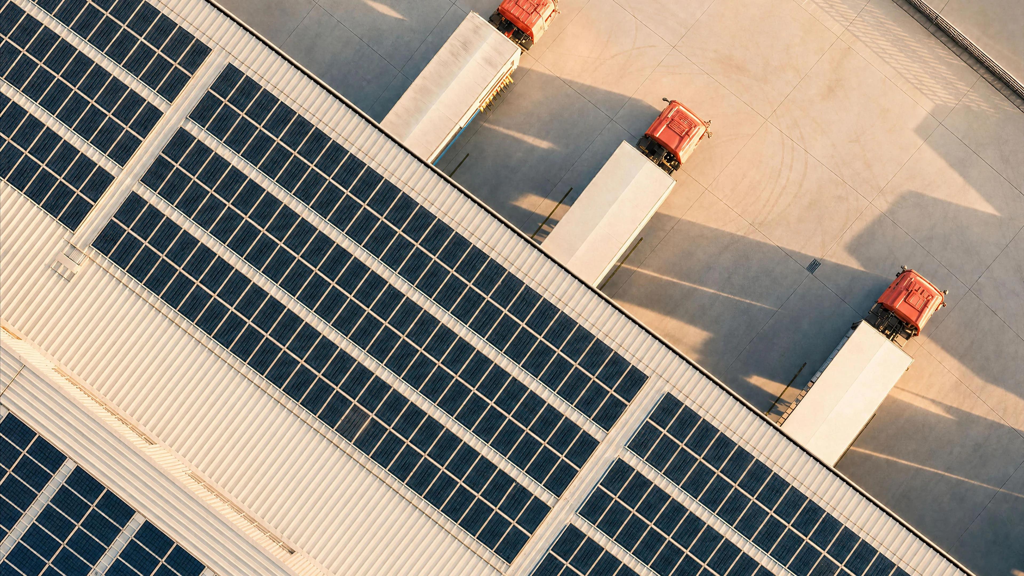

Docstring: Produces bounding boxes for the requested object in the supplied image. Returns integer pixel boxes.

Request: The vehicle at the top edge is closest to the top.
[486,0,568,66]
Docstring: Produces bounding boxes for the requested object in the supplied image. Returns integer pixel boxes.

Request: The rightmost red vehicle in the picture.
[859,259,955,353]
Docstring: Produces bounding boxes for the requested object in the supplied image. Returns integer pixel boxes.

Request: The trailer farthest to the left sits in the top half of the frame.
[381,9,525,171]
